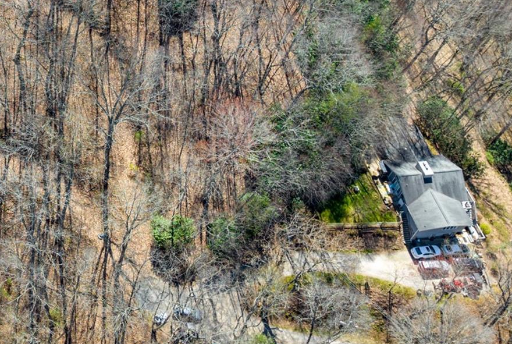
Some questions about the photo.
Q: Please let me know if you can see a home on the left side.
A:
No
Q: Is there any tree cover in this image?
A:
Yes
